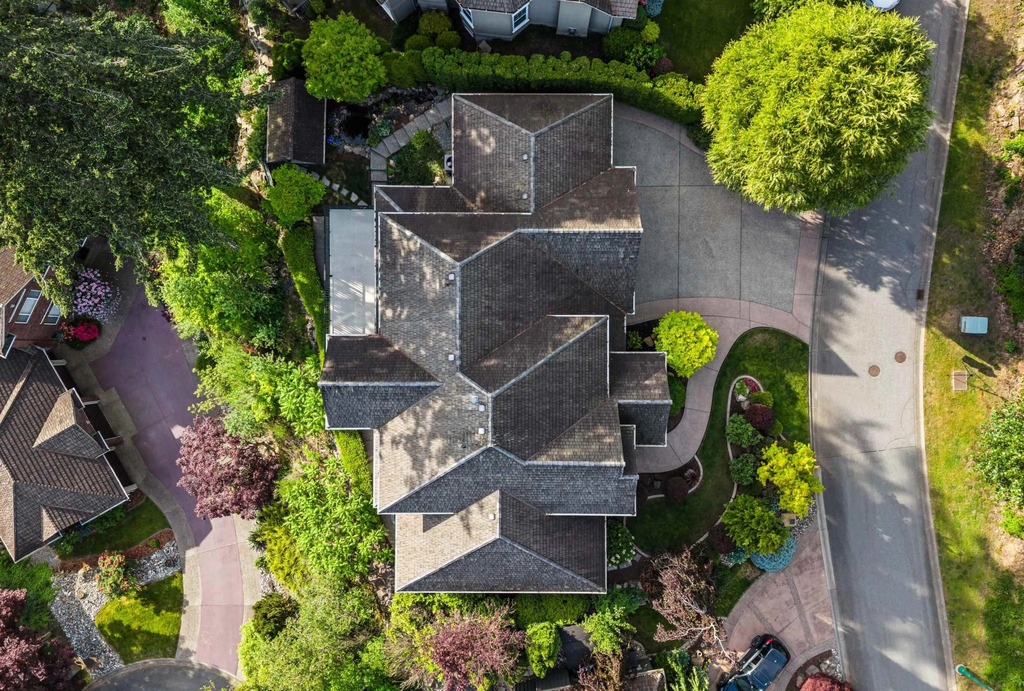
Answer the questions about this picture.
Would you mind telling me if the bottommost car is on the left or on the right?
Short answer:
right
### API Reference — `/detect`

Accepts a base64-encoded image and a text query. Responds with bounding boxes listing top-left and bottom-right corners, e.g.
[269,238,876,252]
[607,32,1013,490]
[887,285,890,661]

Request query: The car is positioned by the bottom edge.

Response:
[722,633,795,691]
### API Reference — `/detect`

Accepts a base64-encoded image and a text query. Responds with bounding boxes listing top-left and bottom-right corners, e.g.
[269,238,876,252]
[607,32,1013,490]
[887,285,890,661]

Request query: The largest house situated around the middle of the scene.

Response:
[319,92,673,595]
